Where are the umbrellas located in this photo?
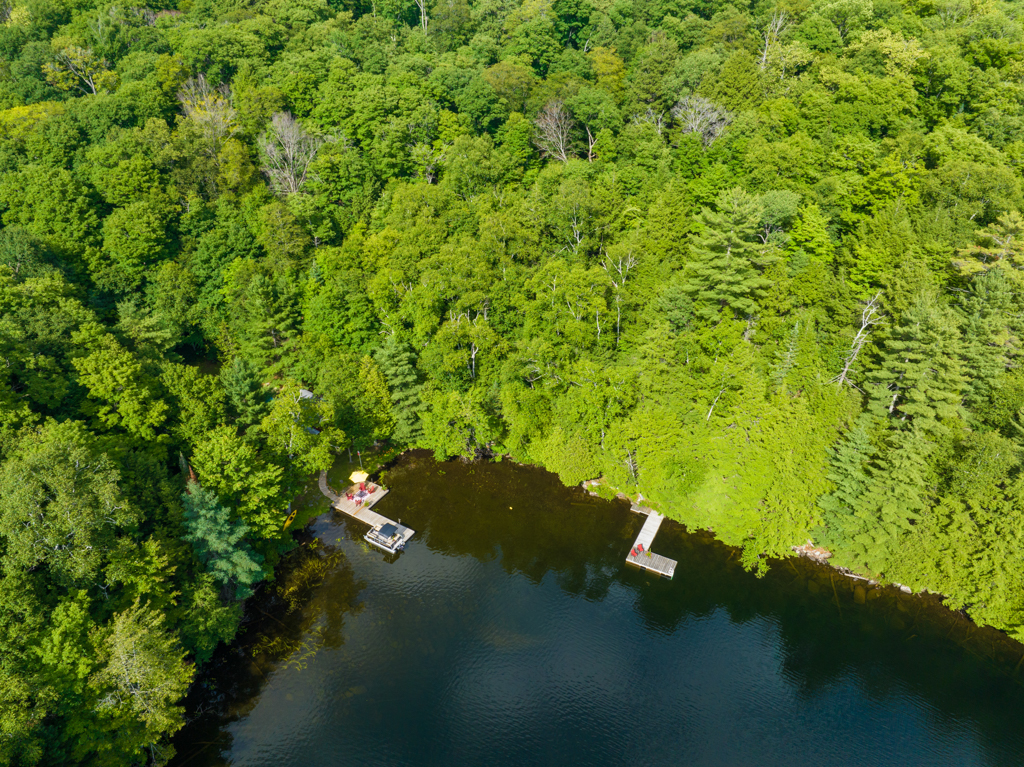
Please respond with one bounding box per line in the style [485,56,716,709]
[349,471,368,488]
